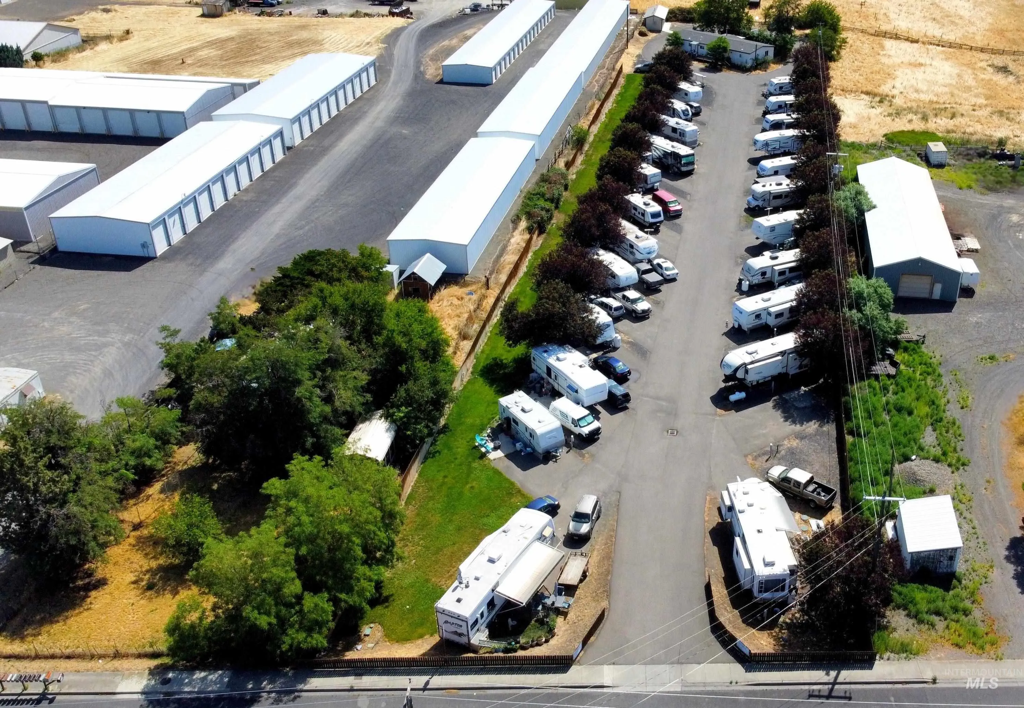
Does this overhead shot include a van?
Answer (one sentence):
Yes, the photo shows a van.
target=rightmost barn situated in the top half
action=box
[855,155,966,302]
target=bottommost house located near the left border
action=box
[0,369,44,438]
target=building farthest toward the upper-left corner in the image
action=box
[0,24,88,64]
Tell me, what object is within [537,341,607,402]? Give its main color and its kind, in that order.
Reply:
white trailer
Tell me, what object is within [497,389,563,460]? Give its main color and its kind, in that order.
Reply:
white trailer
